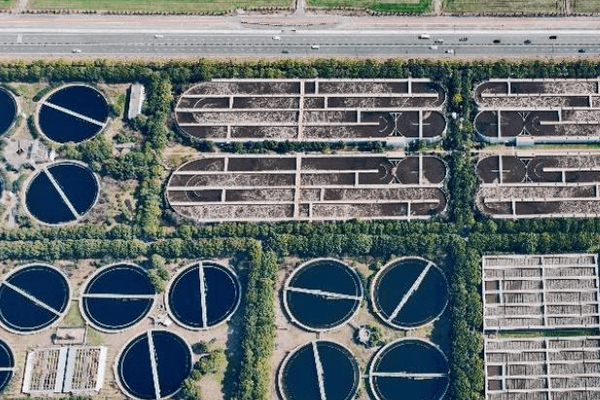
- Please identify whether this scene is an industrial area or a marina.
industrial area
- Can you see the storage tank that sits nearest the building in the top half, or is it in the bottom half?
top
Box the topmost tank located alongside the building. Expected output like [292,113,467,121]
[37,82,110,145]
